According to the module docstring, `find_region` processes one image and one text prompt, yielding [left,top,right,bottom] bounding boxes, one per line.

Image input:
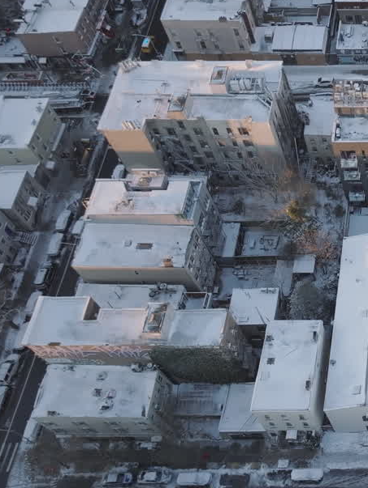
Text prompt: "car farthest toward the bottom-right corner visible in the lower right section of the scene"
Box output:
[287,467,327,484]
